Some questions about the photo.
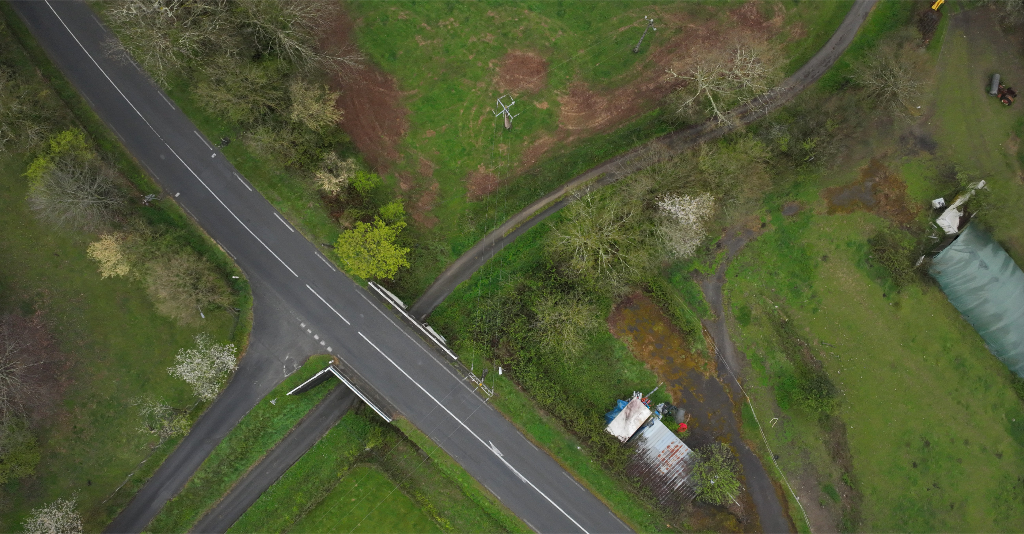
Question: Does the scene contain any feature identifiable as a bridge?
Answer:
Yes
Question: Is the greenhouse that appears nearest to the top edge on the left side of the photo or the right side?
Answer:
right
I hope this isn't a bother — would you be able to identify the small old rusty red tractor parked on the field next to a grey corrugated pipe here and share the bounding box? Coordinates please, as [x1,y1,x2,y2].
[1000,79,1022,104]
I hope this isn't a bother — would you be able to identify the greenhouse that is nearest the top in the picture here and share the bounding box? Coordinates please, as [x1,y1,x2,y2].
[924,224,1024,385]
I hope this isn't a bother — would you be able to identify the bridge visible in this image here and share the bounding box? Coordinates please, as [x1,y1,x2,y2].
[322,278,488,421]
